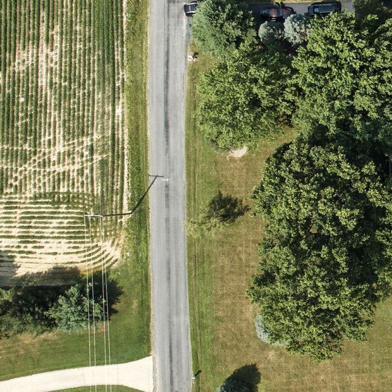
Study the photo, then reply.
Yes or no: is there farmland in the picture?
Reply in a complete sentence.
Yes, there's farmland in this view.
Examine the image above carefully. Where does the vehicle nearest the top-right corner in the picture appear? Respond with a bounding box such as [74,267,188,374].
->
[309,1,343,17]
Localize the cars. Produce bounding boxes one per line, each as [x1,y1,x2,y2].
[261,6,296,21]
[180,1,200,17]
[309,1,343,17]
